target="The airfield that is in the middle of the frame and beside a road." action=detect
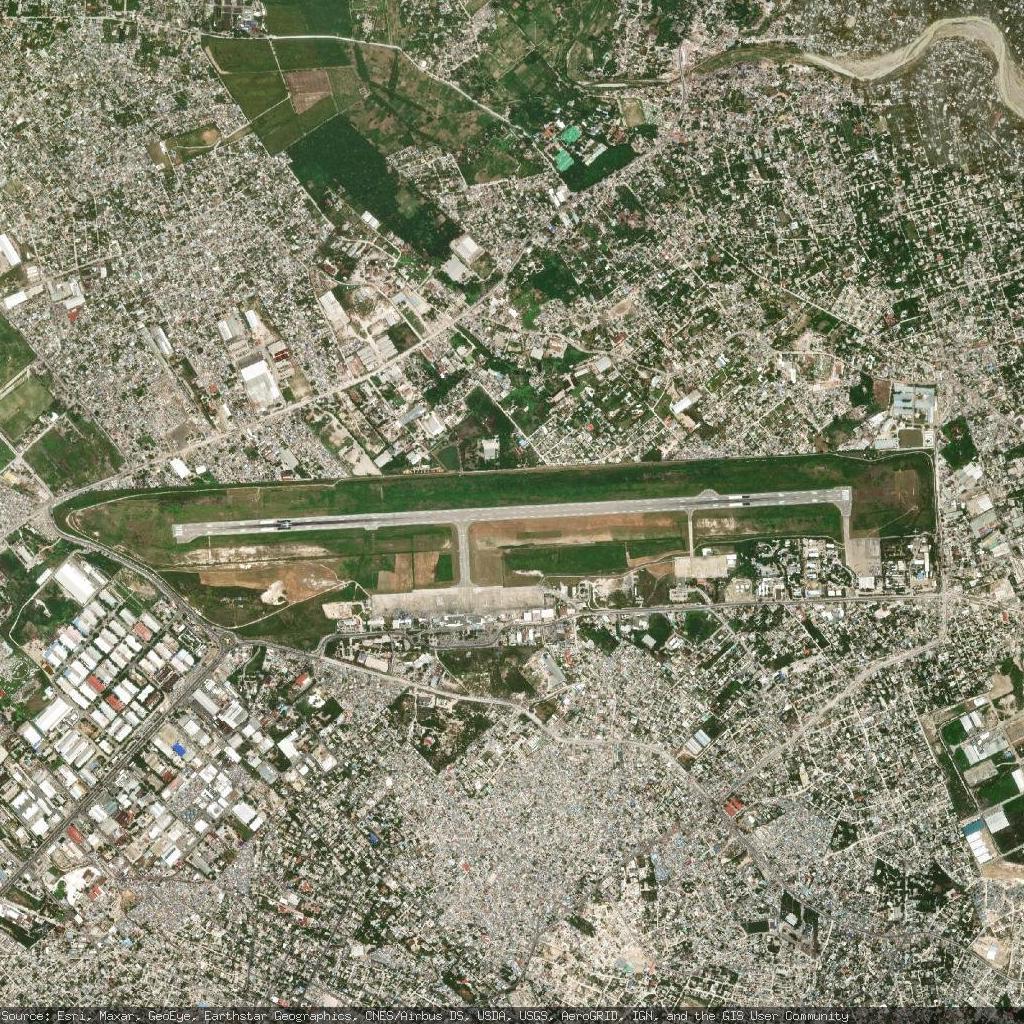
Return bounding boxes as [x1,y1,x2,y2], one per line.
[55,450,937,630]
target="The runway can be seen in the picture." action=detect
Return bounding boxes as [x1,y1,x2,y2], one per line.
[172,486,852,543]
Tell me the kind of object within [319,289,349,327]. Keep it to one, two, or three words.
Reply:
building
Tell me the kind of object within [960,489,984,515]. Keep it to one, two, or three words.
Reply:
building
